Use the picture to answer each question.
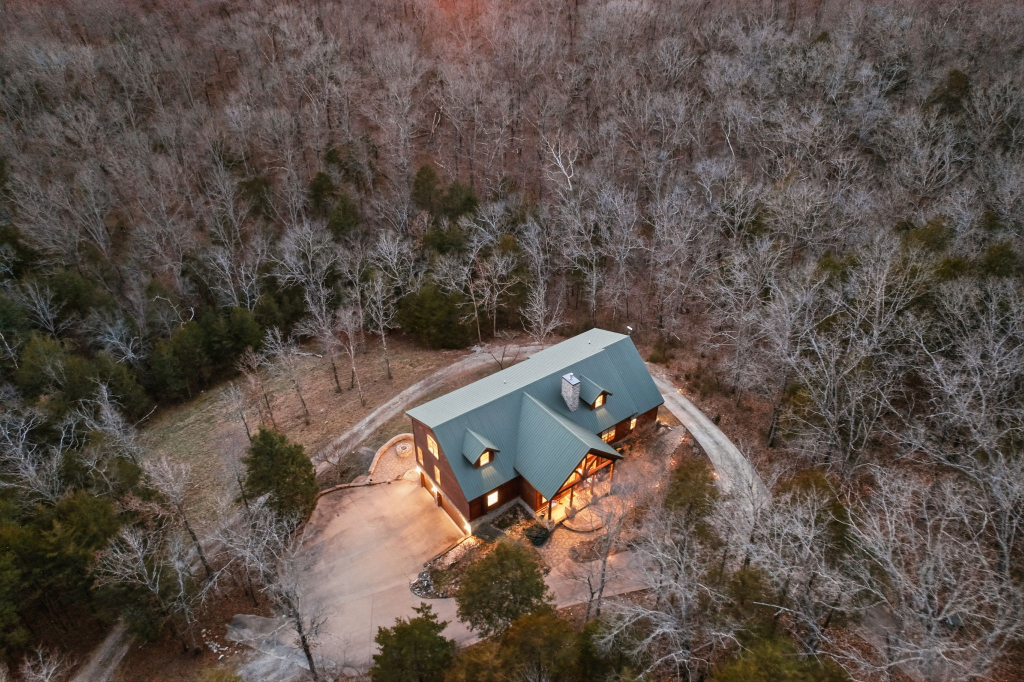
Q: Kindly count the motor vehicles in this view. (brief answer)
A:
0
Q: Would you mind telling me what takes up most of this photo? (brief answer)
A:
trees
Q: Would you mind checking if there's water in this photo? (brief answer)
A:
No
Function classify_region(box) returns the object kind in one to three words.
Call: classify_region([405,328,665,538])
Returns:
house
